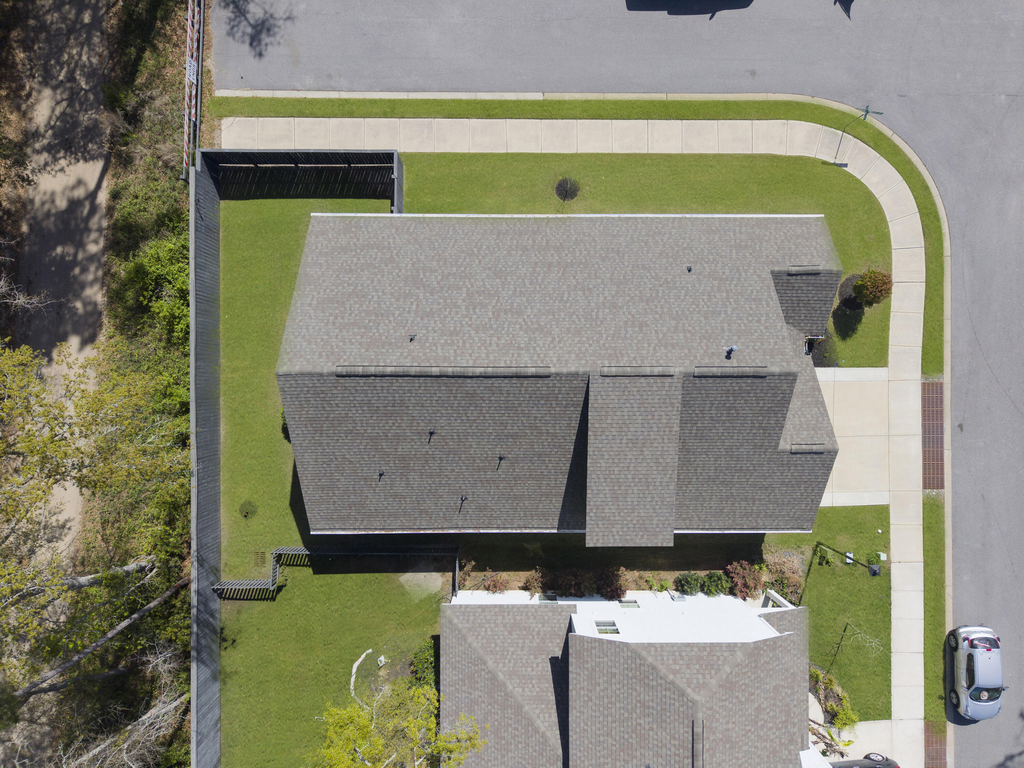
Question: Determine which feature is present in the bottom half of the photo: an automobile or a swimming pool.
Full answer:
It is an automobile that can be seen in the bottom half of the photo.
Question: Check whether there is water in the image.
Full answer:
No, water can't be seen anywhere here.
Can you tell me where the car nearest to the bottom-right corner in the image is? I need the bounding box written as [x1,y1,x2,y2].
[948,624,1009,721]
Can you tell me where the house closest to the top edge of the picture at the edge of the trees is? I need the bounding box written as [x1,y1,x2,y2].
[276,211,843,547]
